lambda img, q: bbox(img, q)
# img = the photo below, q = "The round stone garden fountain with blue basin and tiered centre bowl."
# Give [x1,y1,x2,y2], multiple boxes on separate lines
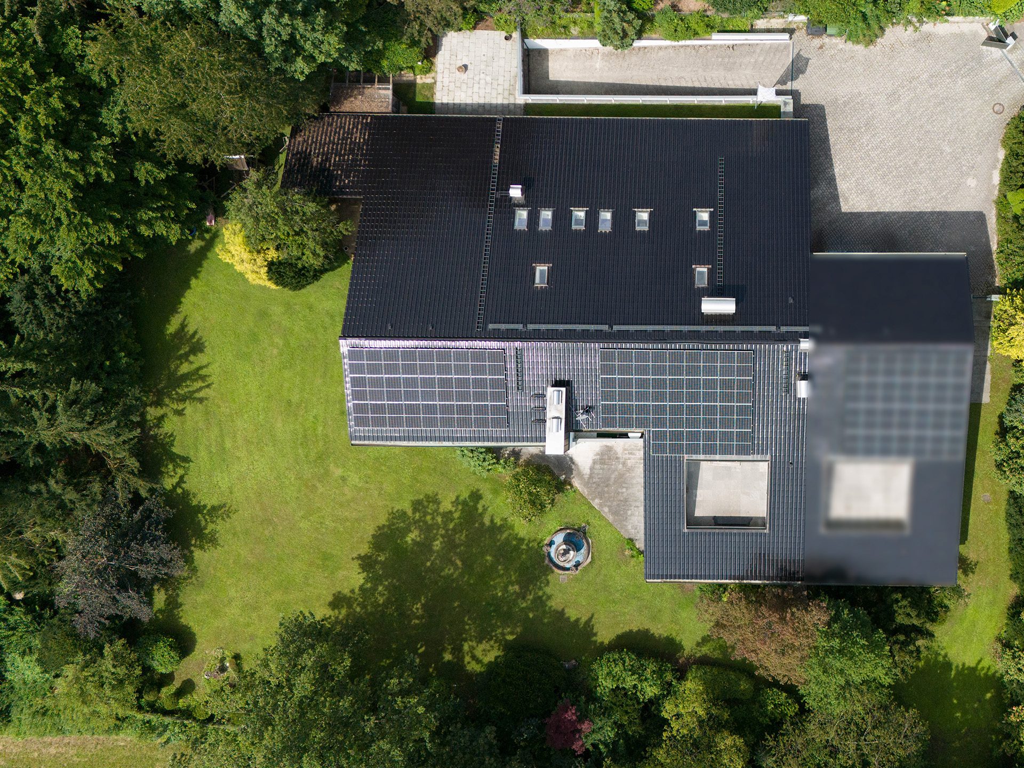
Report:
[543,524,591,573]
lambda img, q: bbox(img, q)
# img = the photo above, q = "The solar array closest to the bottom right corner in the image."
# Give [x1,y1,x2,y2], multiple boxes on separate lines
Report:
[840,353,968,459]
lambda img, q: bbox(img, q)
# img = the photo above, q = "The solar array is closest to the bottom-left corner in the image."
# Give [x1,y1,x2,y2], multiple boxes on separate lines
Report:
[348,349,509,430]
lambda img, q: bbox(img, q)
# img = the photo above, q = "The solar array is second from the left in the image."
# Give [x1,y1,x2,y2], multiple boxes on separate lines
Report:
[600,351,754,456]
